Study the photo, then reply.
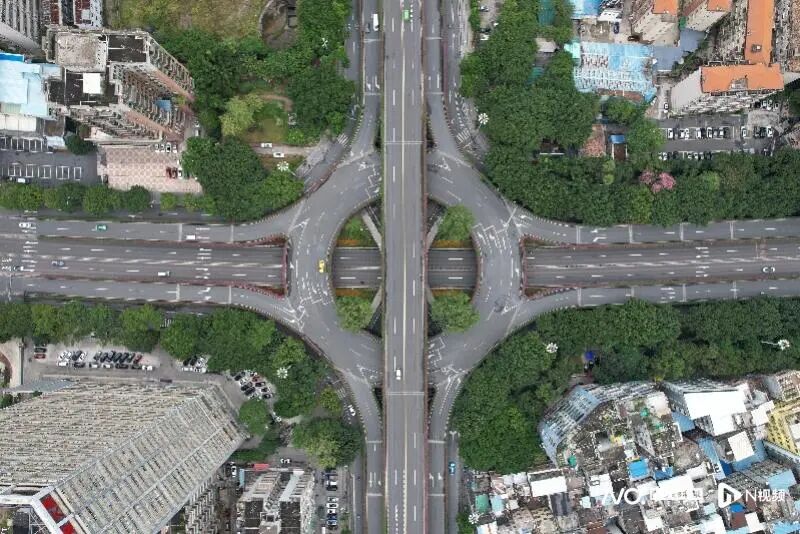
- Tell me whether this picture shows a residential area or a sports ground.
residential area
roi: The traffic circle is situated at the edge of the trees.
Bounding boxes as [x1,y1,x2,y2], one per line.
[281,148,529,391]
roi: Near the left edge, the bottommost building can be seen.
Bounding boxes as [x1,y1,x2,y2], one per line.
[0,383,245,534]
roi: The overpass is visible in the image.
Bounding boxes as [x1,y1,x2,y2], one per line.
[380,0,430,534]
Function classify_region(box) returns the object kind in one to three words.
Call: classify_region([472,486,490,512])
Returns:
house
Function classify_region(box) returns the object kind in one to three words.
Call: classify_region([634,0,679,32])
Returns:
building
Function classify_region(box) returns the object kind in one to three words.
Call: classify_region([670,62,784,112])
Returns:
building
